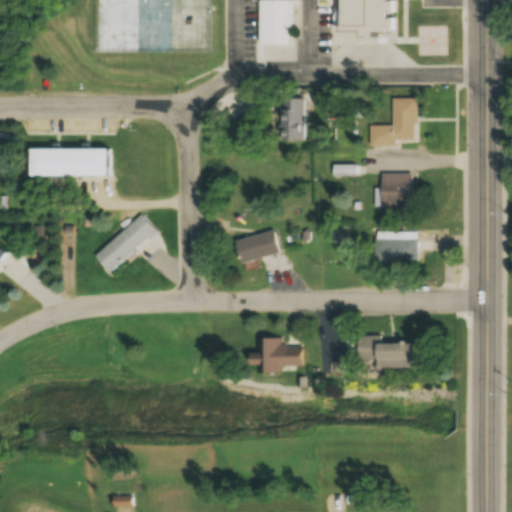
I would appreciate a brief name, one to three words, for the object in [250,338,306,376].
house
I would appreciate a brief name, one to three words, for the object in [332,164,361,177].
shed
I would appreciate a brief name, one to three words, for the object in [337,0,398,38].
building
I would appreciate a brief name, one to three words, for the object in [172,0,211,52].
sports court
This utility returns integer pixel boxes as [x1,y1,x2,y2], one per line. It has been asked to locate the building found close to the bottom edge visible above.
[111,494,136,508]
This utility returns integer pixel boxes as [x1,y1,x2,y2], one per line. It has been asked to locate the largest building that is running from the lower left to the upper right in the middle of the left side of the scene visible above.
[96,212,160,276]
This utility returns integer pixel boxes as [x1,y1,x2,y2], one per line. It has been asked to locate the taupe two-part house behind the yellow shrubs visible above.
[360,334,412,378]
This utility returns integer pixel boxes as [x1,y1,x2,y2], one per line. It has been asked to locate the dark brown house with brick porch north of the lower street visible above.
[236,230,280,270]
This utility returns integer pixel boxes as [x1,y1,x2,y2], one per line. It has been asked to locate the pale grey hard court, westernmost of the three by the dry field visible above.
[98,0,138,52]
